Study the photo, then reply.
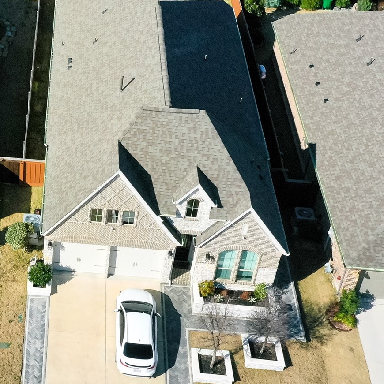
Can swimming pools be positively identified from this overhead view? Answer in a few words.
No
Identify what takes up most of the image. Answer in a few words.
buildings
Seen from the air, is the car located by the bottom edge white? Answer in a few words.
Yes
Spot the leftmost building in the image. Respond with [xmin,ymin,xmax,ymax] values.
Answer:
[37,0,295,288]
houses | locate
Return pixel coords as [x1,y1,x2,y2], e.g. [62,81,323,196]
[271,9,384,300]
[37,0,295,288]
